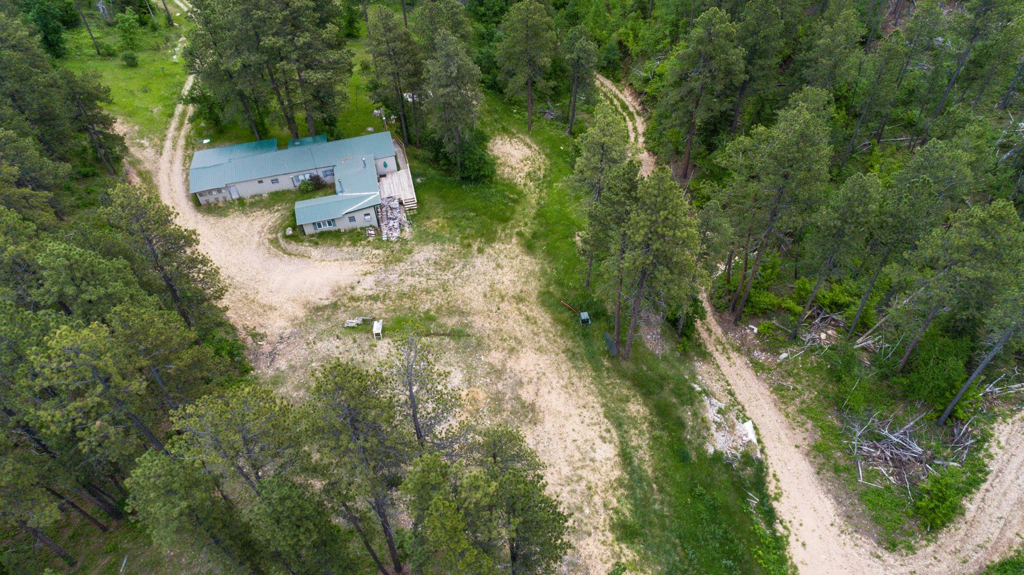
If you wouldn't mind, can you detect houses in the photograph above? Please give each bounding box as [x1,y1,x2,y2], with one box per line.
[189,131,396,236]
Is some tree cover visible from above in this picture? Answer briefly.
Yes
